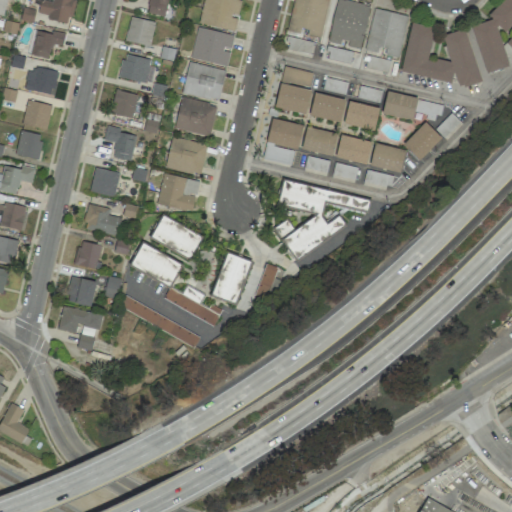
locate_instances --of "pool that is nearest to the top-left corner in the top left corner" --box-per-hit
[20,26,33,44]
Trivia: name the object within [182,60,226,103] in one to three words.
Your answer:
house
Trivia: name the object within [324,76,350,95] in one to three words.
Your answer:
building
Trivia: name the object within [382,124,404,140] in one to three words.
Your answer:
swimming pool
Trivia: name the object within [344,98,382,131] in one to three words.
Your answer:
building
